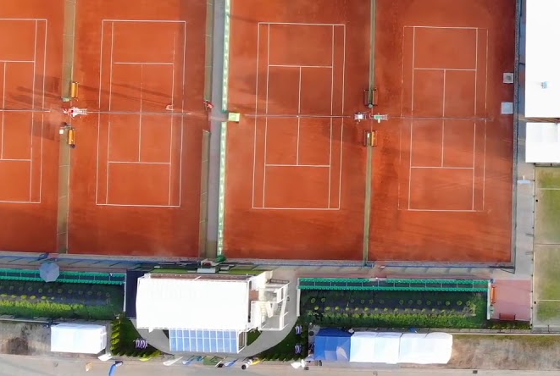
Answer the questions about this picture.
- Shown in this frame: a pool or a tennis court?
tennis court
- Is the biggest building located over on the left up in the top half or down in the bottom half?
bottom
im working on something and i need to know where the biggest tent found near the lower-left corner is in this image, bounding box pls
[52,318,113,355]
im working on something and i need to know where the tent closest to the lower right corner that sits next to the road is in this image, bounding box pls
[400,327,453,363]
